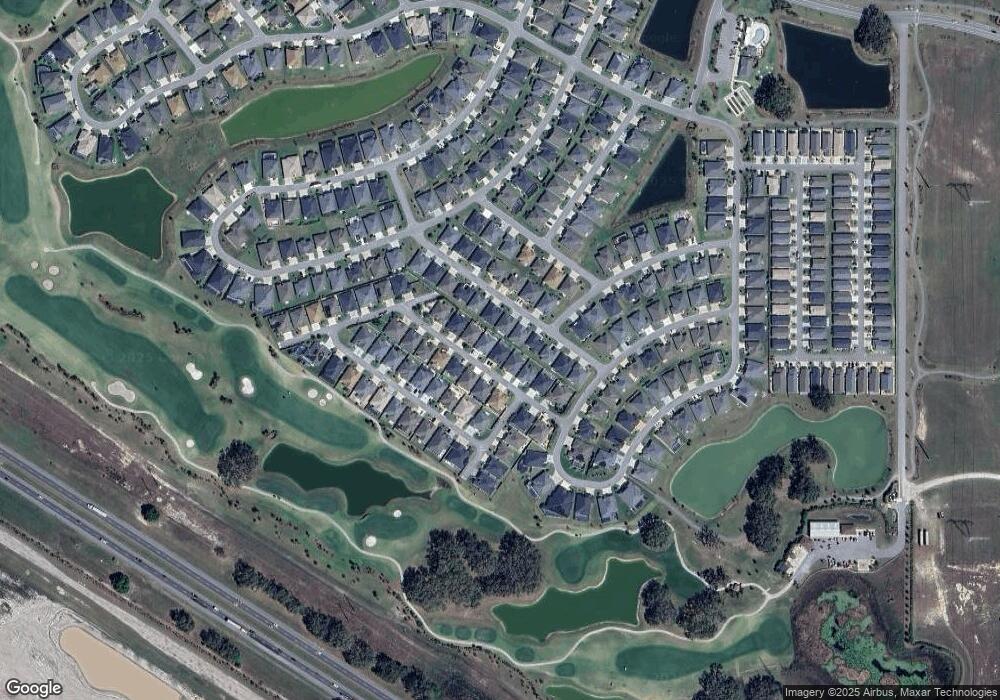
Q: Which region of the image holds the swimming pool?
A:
top right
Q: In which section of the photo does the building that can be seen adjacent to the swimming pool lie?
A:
top right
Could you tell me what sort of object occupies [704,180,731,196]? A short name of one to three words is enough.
house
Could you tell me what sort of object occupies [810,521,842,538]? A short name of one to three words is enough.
barn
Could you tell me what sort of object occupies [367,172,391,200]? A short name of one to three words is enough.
house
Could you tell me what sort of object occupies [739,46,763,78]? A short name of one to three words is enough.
building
